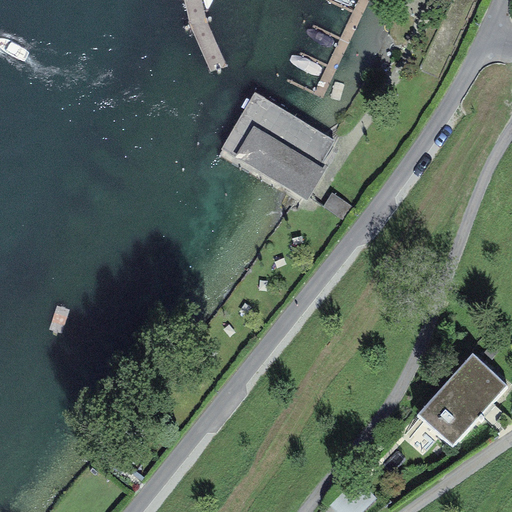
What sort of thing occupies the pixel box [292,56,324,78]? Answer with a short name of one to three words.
boat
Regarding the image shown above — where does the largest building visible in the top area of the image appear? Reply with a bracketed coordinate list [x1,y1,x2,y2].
[221,92,334,206]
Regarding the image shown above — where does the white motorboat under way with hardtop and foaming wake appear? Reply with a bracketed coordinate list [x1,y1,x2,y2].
[0,40,30,62]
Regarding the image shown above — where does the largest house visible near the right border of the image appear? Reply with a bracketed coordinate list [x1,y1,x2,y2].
[418,354,506,446]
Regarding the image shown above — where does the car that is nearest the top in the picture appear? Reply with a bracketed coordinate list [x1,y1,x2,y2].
[434,124,452,146]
